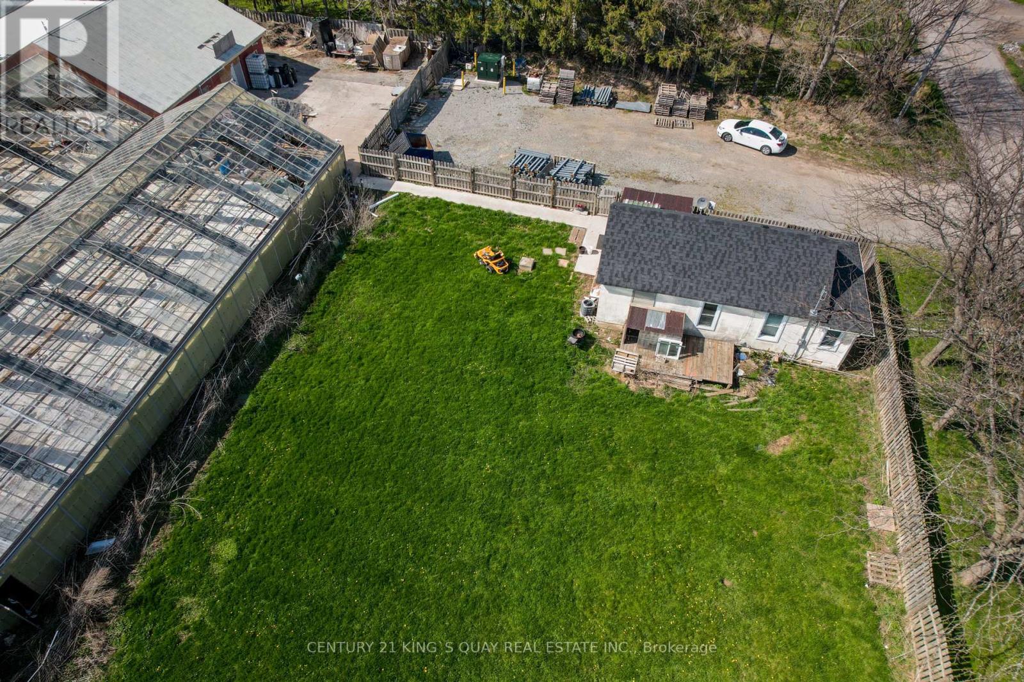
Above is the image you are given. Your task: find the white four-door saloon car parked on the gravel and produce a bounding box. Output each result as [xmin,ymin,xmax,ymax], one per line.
[715,120,793,158]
